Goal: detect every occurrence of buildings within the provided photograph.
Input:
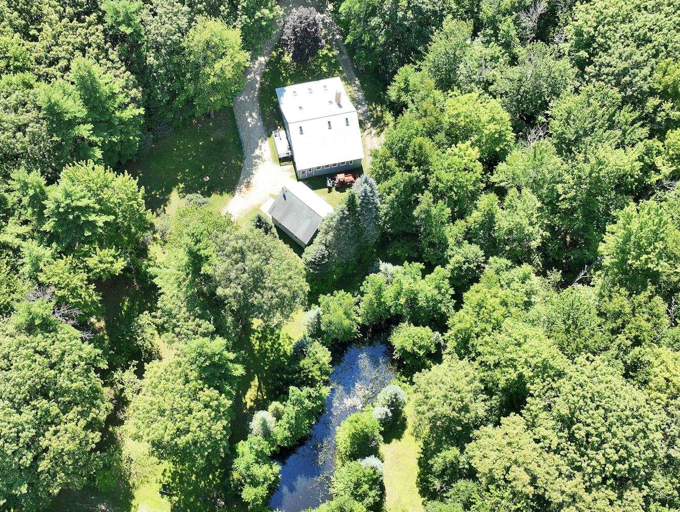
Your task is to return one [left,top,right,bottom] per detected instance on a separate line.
[268,183,335,247]
[275,76,365,179]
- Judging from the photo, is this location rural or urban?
rural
